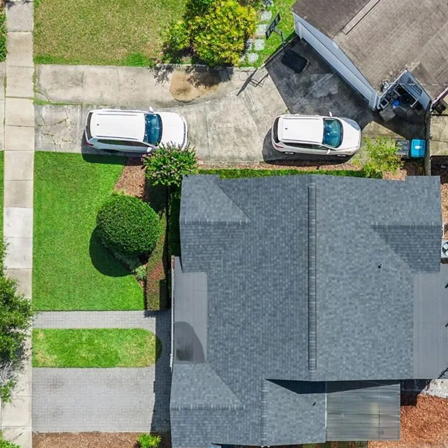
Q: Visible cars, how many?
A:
2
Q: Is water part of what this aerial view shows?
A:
No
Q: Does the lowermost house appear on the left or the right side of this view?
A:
right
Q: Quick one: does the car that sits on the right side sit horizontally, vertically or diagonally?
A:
horizontally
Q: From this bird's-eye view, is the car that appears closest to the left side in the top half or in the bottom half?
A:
top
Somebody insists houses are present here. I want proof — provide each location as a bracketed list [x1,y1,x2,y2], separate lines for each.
[166,176,448,448]
[294,0,448,111]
